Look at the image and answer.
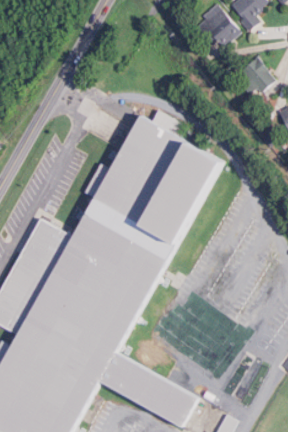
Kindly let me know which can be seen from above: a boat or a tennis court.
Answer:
tennis court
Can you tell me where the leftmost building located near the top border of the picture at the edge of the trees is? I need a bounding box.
[202,3,242,48]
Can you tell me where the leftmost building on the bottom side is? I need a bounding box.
[0,108,227,432]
